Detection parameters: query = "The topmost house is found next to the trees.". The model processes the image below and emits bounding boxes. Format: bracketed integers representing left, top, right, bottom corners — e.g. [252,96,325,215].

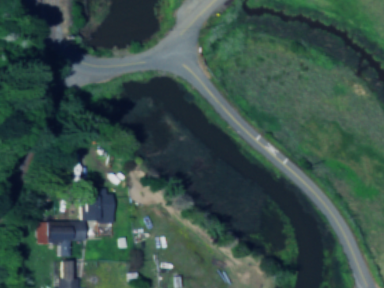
[78,188,116,222]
